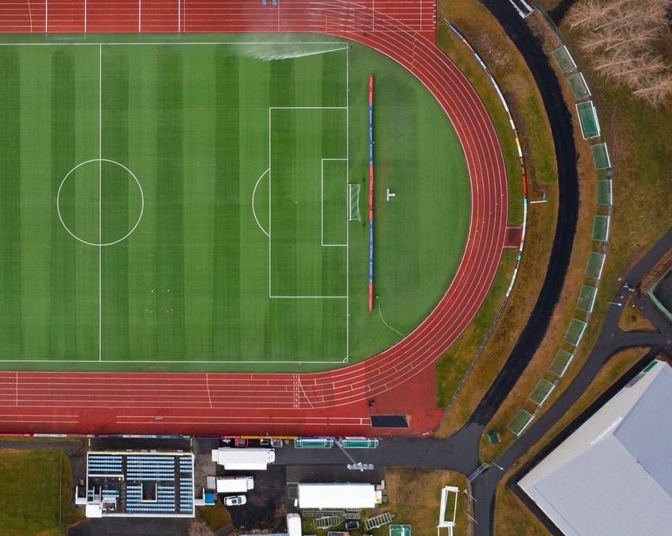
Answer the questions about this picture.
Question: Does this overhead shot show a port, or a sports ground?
sports ground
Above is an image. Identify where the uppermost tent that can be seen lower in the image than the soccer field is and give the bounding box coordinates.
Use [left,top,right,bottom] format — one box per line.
[295,480,381,508]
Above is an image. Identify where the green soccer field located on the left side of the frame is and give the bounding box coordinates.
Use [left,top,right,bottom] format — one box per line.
[0,31,472,374]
